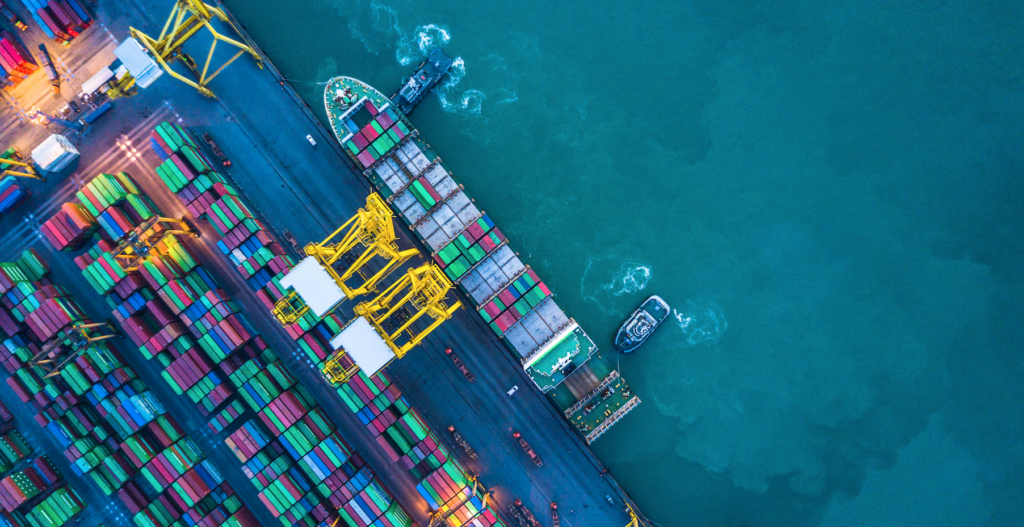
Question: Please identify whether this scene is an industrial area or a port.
port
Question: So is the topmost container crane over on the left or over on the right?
left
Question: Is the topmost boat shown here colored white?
No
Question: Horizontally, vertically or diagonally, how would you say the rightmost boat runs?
diagonally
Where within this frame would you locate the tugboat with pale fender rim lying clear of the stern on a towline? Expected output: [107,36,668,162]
[612,295,672,355]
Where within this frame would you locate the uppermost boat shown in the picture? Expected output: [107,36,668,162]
[389,48,452,115]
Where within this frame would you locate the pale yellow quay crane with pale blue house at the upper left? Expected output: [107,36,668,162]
[100,0,269,106]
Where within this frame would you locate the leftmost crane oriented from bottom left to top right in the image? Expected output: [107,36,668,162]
[30,318,124,382]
